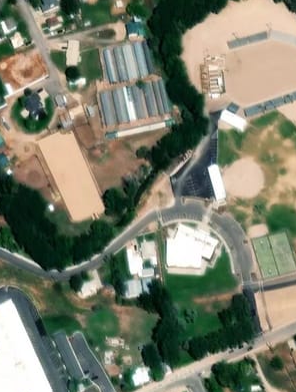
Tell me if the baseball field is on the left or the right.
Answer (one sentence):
It is on the right.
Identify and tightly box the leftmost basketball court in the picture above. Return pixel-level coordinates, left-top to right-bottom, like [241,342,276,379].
[252,235,279,278]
